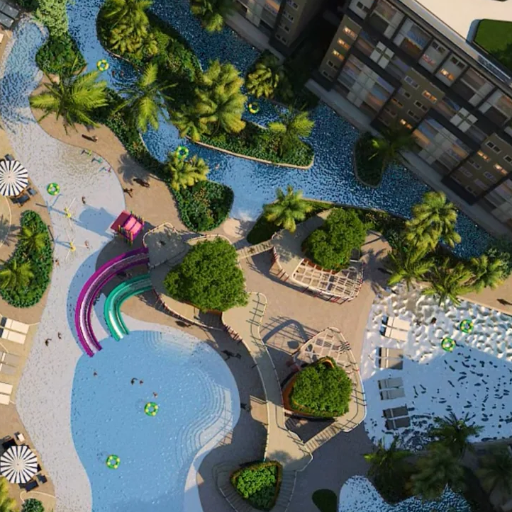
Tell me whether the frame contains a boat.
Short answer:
No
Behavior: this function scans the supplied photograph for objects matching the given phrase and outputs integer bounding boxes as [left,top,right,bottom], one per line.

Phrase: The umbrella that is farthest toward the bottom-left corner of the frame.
[1,446,39,483]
